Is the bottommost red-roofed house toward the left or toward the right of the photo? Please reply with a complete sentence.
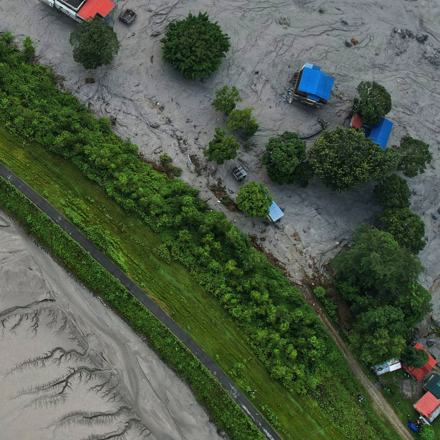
The bottommost red-roofed house sits on the right side.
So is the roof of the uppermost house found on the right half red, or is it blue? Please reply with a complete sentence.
The color of the roof of the uppermost house found on the right half is blue.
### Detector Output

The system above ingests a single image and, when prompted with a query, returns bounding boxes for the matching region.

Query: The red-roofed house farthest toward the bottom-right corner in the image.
[410,392,440,423]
